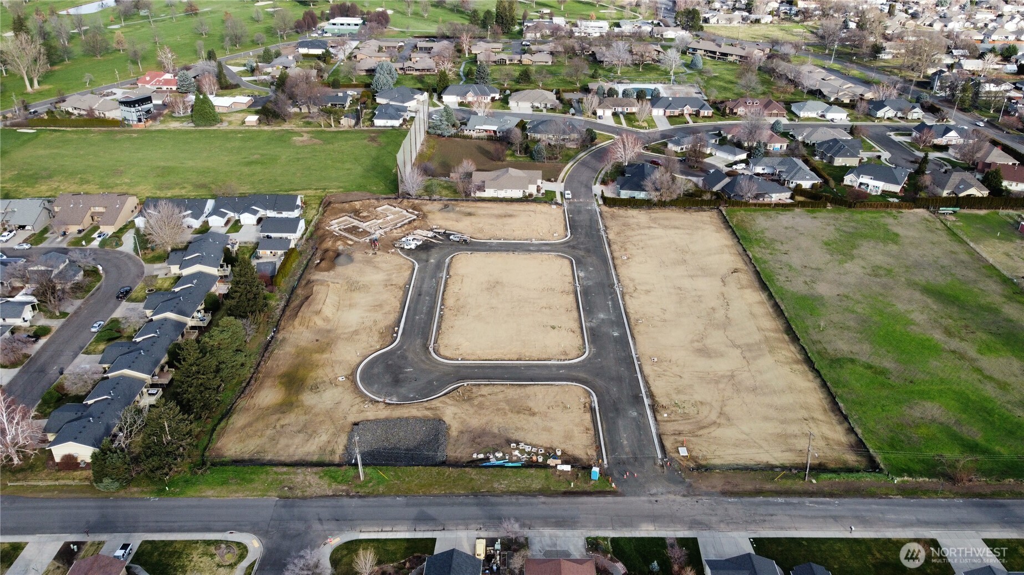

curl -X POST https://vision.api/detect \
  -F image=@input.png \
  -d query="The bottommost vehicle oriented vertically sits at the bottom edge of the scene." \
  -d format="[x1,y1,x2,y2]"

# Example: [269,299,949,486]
[473,530,486,559]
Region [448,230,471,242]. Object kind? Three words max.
vehicle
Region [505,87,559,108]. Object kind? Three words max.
house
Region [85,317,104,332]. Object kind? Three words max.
car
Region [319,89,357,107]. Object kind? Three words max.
house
